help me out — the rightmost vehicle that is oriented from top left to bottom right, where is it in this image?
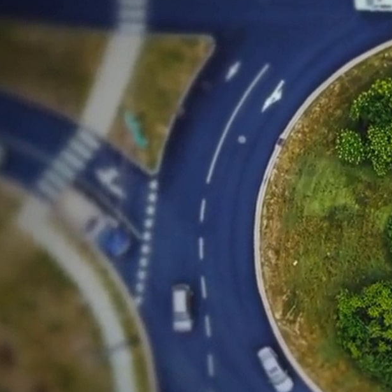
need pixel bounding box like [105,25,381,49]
[256,344,295,392]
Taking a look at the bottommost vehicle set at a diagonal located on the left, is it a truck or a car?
truck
